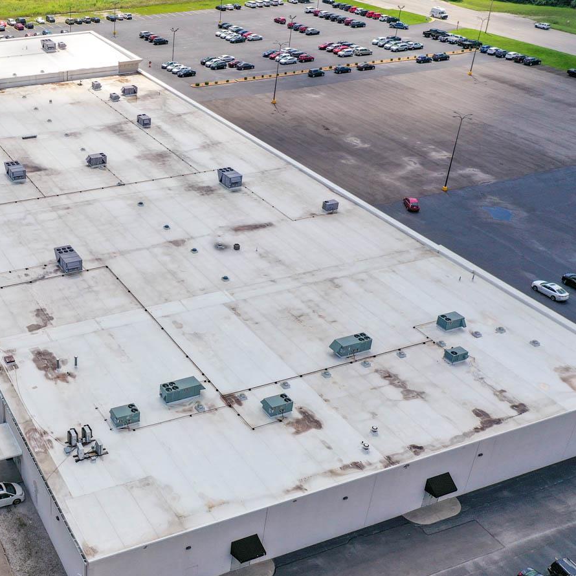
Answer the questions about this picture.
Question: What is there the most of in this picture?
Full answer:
For the most part, this view shows buildings.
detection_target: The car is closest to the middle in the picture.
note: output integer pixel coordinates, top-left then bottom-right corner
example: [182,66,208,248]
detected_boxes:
[402,196,423,211]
